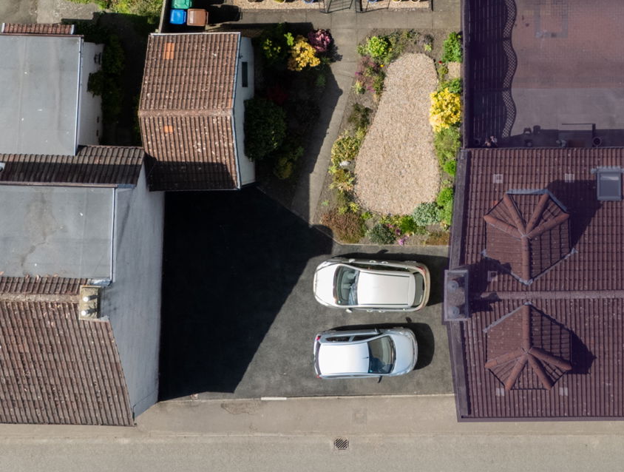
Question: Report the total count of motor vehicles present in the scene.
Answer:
2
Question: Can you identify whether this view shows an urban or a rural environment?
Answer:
urban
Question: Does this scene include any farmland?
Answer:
No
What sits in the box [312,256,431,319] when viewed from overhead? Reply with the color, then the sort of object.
white car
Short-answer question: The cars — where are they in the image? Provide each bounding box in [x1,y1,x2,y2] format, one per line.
[312,256,431,319]
[310,326,418,388]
